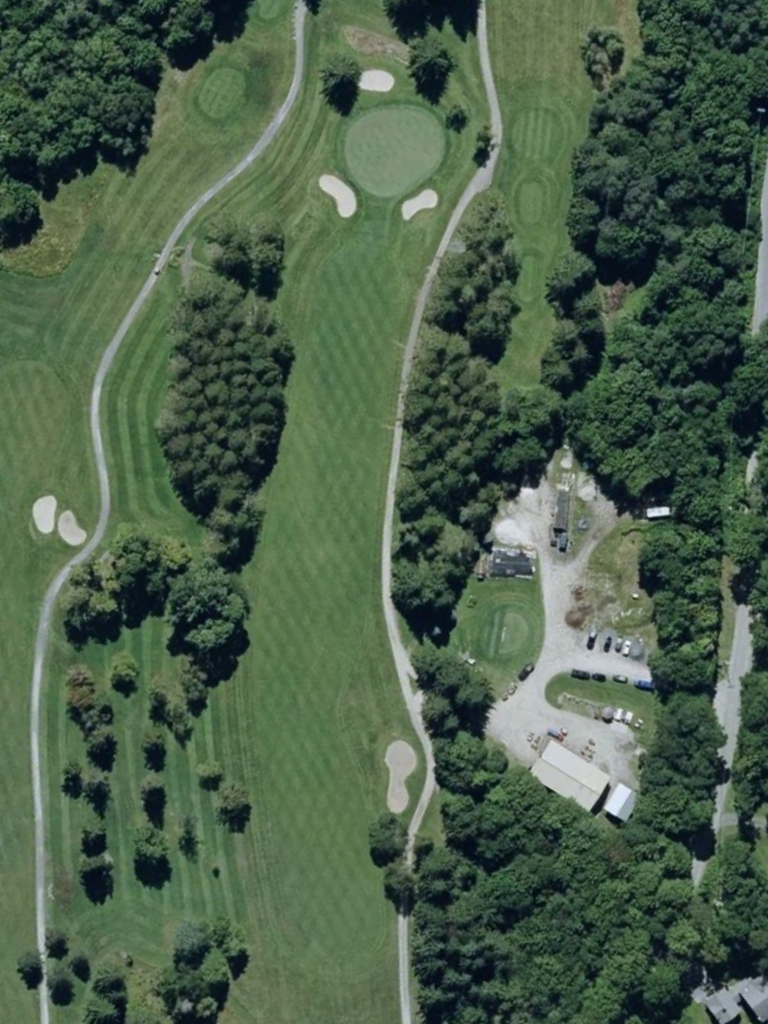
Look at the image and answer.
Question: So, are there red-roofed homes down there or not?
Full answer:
No, I find no red-roofed home anywhere in the image.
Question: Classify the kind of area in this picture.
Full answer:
The area seen from above is a golf course.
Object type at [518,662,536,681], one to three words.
vehicle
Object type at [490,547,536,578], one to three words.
building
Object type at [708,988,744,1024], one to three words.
house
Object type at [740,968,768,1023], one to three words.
house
